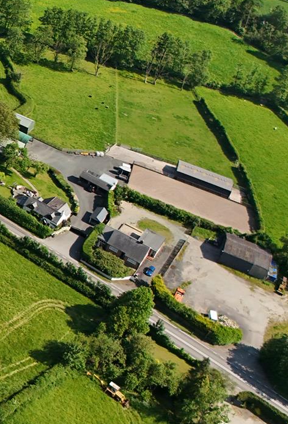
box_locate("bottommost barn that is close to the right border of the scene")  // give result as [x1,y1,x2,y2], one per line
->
[220,236,278,286]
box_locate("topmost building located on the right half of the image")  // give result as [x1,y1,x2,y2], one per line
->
[174,164,235,201]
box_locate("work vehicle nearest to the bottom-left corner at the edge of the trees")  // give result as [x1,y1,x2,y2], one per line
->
[93,371,132,407]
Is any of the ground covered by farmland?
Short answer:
Yes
